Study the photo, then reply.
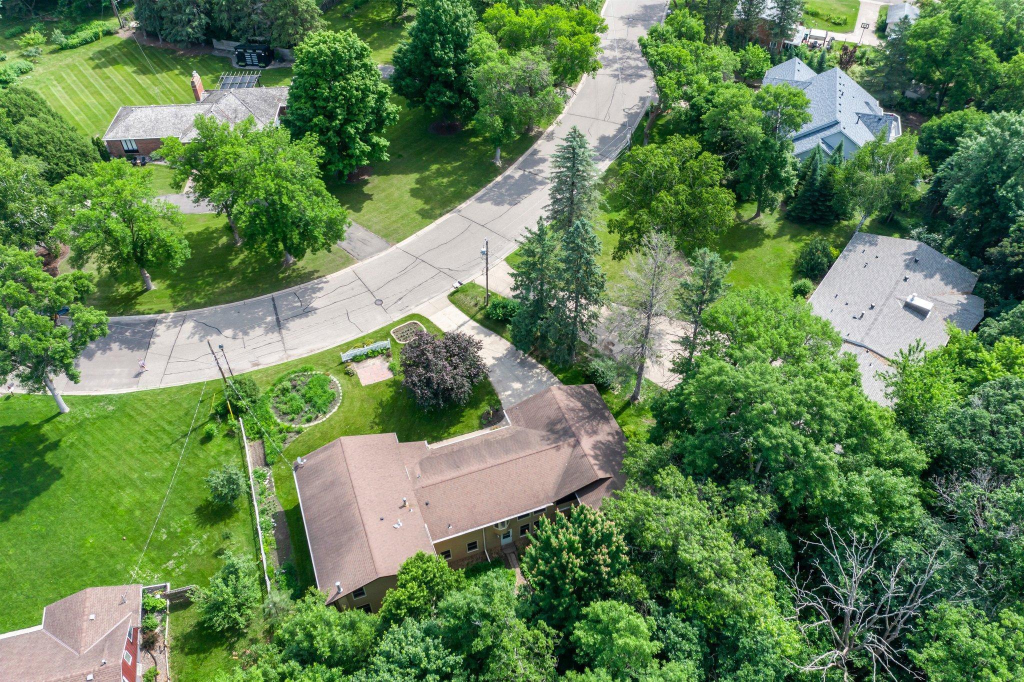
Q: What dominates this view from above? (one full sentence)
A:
What you mostly see from above here is trees.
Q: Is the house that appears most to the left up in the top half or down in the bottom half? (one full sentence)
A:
The bottom half of the photo is where the house that appears most to the left is.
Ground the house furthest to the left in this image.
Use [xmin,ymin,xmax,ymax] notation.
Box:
[0,581,151,682]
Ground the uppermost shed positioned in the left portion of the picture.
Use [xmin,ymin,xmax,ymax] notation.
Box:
[231,42,272,66]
